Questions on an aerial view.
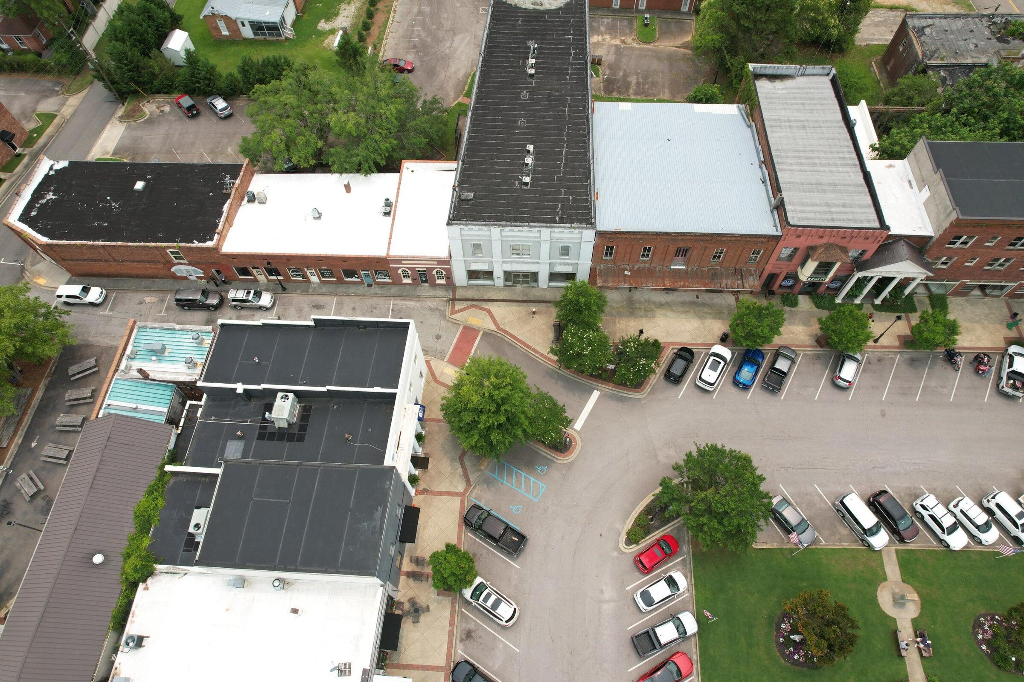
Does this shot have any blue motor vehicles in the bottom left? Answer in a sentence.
No, the scene shows no blue motor vehicle in the bottom left.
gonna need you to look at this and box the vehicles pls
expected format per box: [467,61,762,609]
[696,344,729,394]
[226,287,276,312]
[947,494,997,549]
[453,658,503,682]
[471,508,535,562]
[997,345,1024,401]
[832,349,866,393]
[632,534,682,577]
[759,342,798,397]
[912,493,965,552]
[981,489,1024,548]
[1007,479,1024,511]
[172,285,224,309]
[205,95,235,122]
[834,490,888,551]
[867,486,919,545]
[663,343,696,389]
[732,346,764,393]
[54,282,108,305]
[770,494,815,550]
[632,571,688,614]
[173,92,202,120]
[378,55,418,75]
[945,352,962,373]
[629,609,699,662]
[462,579,519,630]
[635,651,694,682]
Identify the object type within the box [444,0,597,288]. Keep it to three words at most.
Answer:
building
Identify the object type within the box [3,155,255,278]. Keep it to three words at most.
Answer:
building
